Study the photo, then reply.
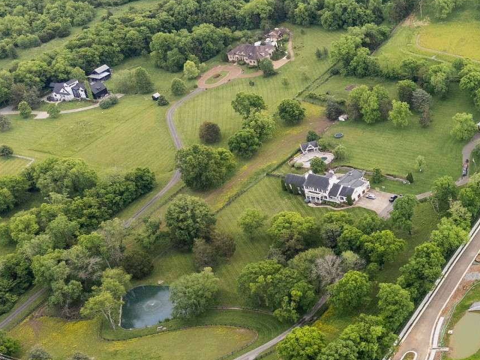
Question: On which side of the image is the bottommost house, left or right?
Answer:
right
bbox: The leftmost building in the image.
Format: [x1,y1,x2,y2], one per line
[52,80,93,102]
